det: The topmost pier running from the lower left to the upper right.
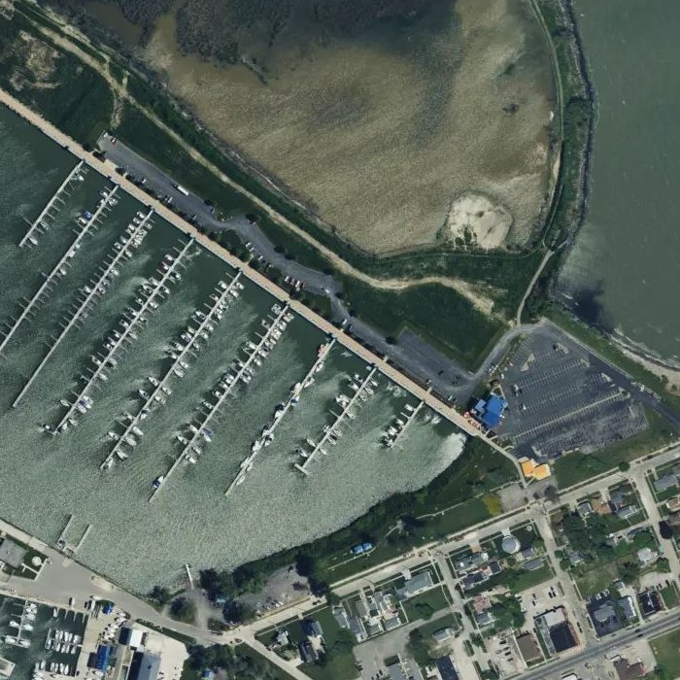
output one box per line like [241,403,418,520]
[19,159,85,246]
